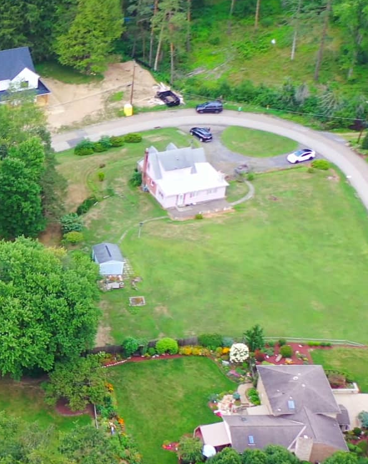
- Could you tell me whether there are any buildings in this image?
Yes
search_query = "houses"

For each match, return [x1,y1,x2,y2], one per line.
[0,48,44,106]
[199,365,359,464]
[126,134,231,209]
